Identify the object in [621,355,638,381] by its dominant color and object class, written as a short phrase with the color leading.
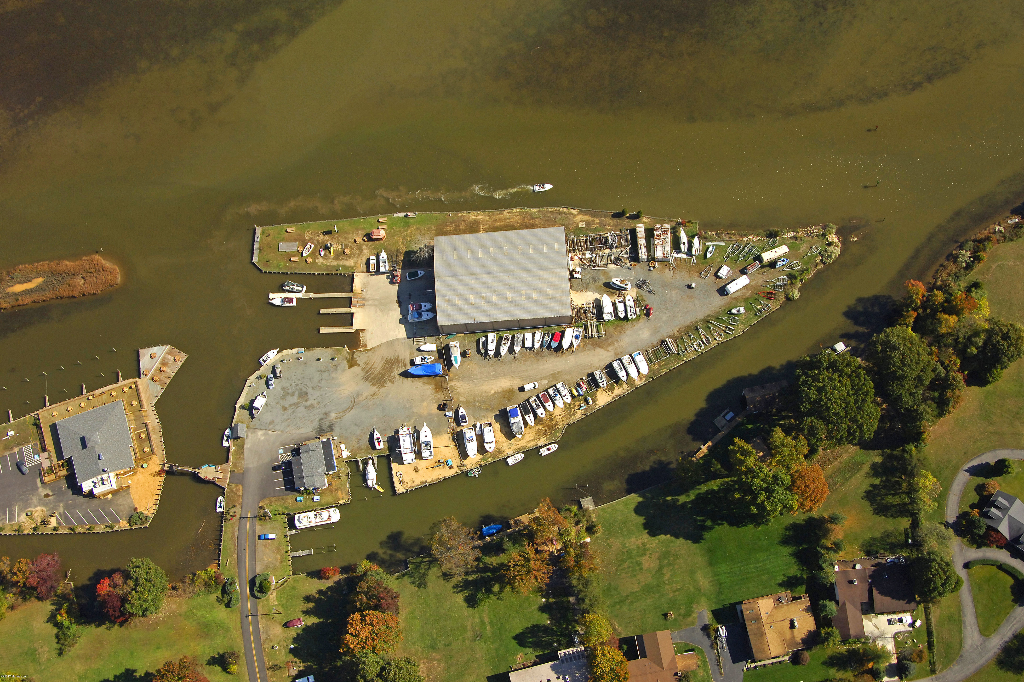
white boat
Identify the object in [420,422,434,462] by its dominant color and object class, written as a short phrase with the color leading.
white boat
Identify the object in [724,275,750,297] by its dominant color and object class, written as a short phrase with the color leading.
white camper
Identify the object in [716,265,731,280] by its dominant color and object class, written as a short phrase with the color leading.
white vehicle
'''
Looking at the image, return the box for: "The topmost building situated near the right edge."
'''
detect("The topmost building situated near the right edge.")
[981,491,1024,541]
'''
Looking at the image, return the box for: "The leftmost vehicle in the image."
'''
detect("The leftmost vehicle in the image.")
[17,460,30,476]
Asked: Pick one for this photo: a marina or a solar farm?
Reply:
marina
